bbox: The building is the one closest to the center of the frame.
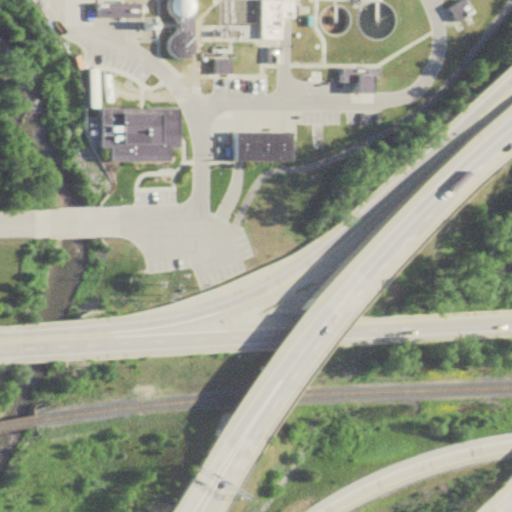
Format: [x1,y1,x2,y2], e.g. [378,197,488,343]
[234,133,294,162]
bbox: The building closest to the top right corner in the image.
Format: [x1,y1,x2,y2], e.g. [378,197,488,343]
[446,1,472,22]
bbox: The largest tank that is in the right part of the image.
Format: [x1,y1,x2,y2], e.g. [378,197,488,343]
[358,0,396,39]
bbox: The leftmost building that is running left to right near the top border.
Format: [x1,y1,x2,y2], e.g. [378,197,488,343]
[94,4,142,18]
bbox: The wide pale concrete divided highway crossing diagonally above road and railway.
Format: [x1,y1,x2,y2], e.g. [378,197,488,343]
[176,102,512,512]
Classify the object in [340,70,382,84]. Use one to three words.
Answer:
building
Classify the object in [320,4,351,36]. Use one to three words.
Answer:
storage tank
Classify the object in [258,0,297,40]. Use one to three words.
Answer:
building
